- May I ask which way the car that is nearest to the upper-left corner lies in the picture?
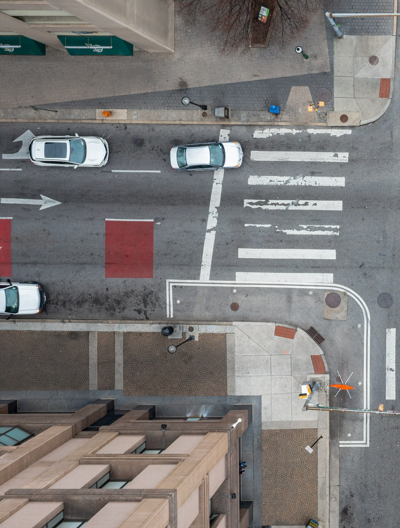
horizontally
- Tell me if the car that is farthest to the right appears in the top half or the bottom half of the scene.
top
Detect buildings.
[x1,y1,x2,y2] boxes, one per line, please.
[0,416,238,528]
[0,0,173,57]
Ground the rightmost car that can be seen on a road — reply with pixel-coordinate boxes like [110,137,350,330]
[169,140,245,172]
